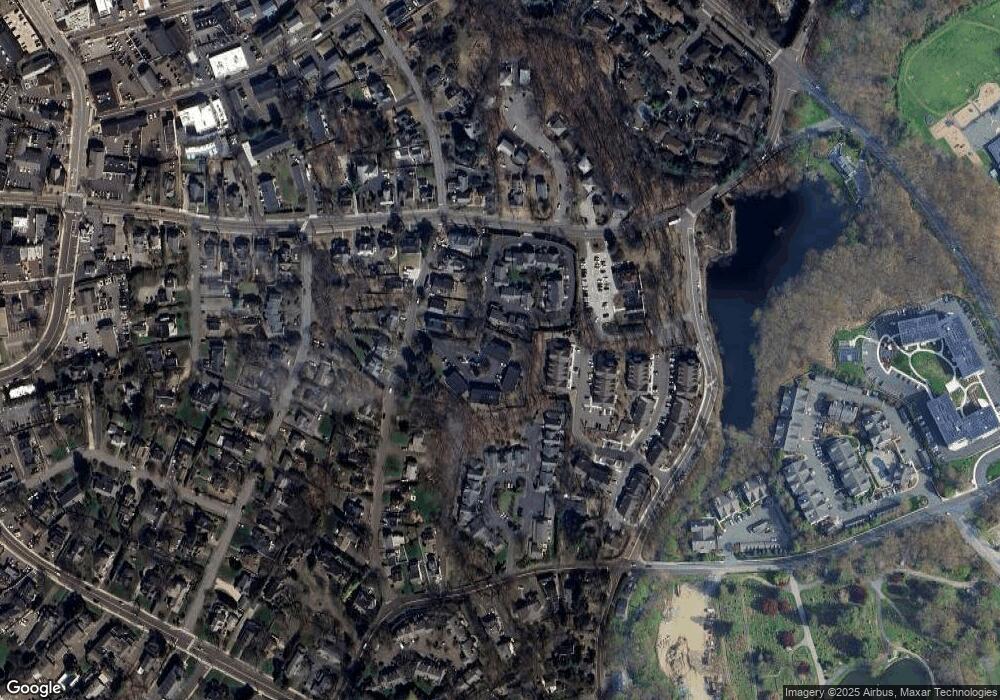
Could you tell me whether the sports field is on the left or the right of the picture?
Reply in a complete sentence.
The sports field is on the right side of the image.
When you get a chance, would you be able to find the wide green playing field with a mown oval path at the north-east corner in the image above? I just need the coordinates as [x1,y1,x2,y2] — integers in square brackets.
[897,0,1000,188]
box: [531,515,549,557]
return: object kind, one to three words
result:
house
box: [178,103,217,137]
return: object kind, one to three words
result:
building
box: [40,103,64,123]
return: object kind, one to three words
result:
house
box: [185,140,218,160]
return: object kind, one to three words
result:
building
